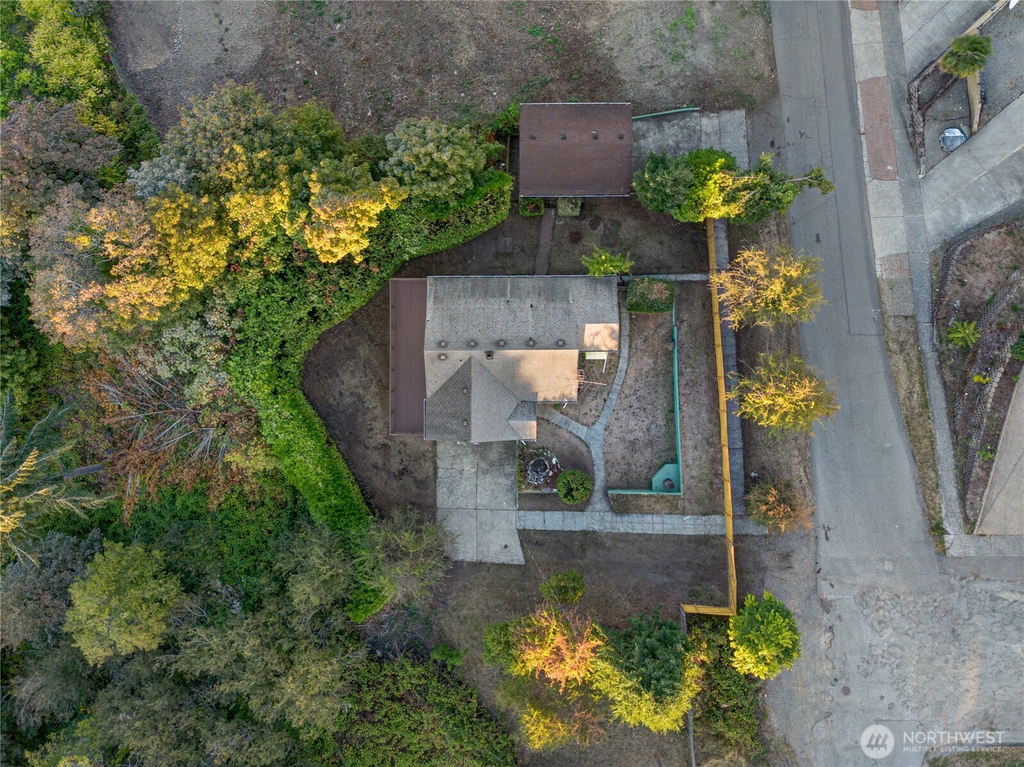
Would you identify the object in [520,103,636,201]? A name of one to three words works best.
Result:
building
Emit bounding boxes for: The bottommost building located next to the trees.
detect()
[422,274,620,443]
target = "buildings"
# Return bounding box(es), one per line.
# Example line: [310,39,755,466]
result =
[520,103,636,201]
[422,274,620,443]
